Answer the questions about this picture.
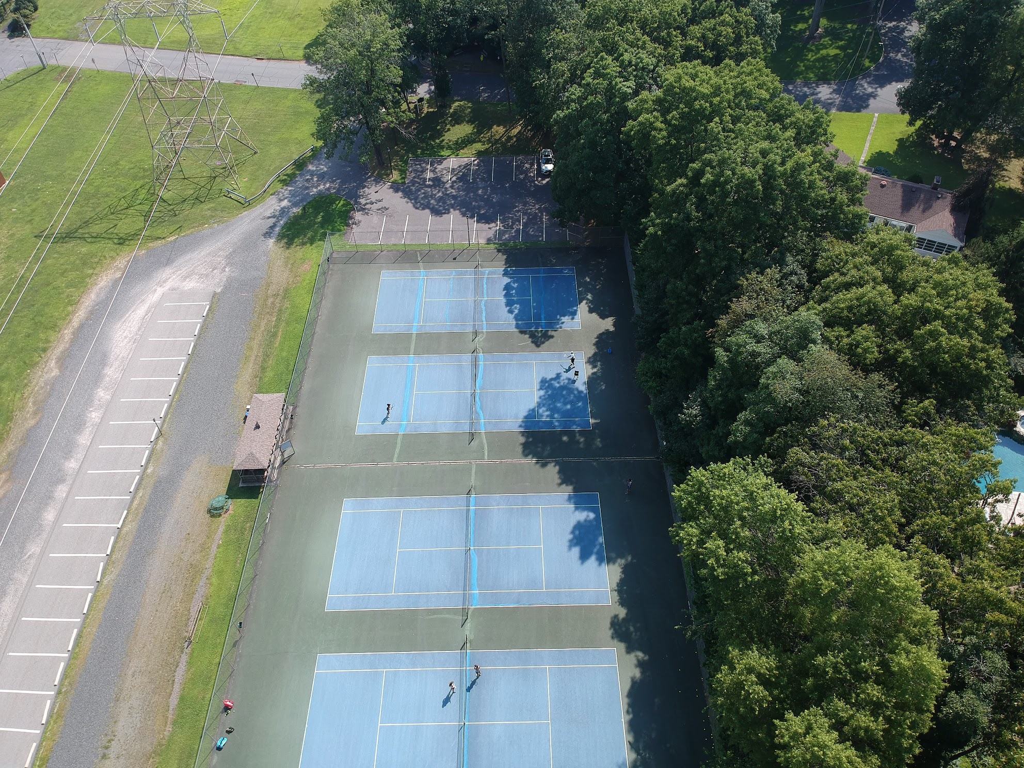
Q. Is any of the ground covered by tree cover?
Yes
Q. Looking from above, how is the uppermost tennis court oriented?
from left to right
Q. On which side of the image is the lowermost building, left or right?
left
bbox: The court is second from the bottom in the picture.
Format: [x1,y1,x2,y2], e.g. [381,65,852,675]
[325,493,611,611]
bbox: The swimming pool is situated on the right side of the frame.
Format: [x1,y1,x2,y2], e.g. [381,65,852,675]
[956,408,1024,537]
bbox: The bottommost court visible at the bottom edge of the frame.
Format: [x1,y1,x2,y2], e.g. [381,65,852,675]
[299,648,629,768]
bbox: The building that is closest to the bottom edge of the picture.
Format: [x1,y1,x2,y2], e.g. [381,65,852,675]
[231,393,289,484]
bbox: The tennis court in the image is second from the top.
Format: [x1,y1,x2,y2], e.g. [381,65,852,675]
[355,351,592,434]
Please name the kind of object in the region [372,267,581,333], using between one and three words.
tennis court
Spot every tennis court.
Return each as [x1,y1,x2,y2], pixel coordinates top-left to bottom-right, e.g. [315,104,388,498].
[355,351,592,434]
[299,648,629,768]
[325,493,611,611]
[372,267,581,333]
